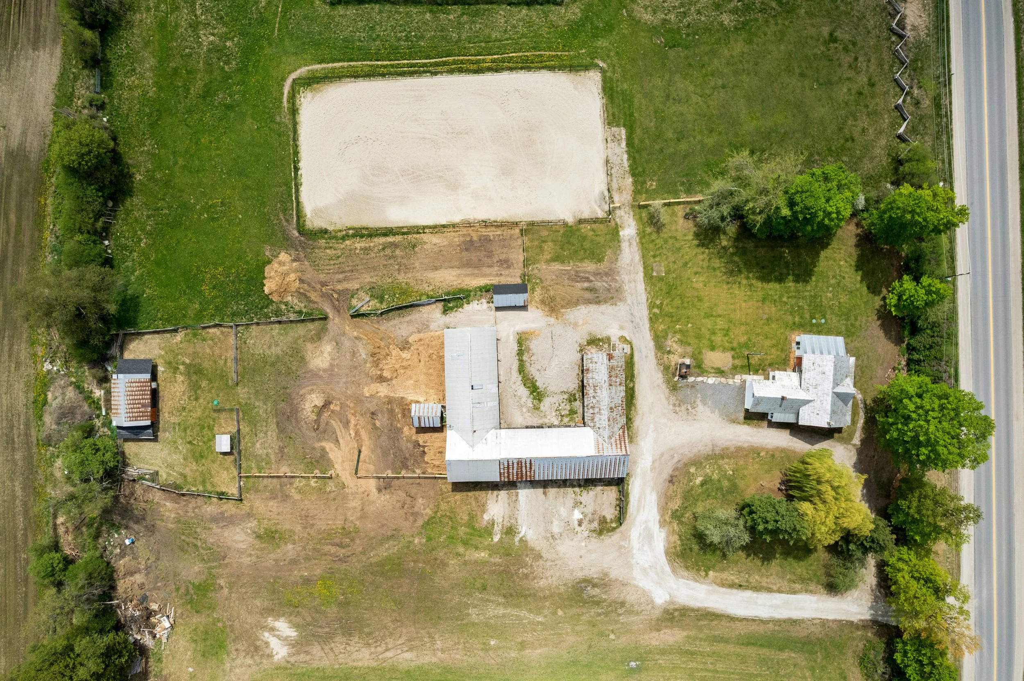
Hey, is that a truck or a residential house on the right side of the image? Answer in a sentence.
The one visible on the right side of the image is a residential house.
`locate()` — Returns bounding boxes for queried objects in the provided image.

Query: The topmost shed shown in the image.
[493,284,528,307]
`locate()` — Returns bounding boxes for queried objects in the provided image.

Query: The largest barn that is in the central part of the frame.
[444,326,631,482]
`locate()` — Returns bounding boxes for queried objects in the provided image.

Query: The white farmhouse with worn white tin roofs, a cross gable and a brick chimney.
[744,335,858,428]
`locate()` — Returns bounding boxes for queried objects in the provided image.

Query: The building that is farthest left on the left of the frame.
[112,359,160,439]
